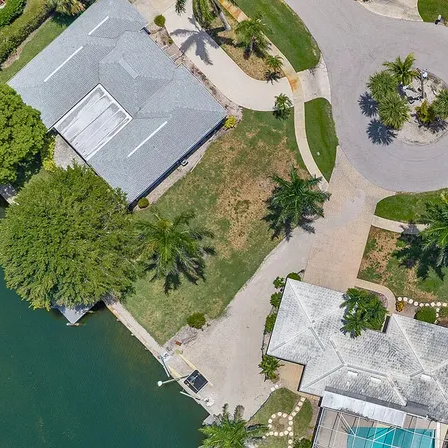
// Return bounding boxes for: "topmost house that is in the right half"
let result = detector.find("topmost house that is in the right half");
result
[267,278,448,427]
